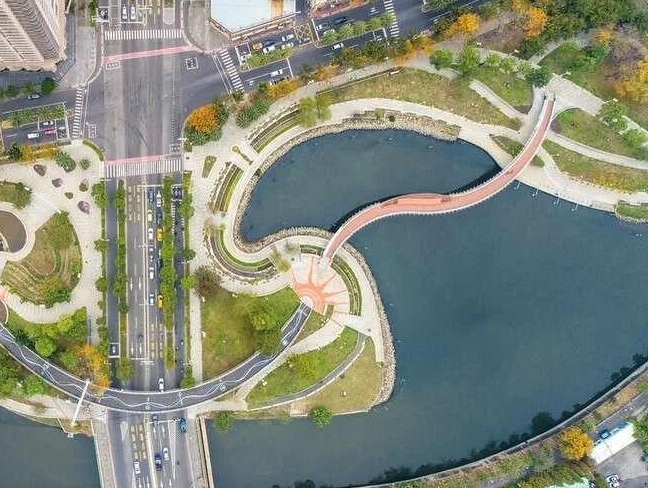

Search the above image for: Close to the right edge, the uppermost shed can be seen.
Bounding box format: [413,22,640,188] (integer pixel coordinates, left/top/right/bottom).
[587,419,635,466]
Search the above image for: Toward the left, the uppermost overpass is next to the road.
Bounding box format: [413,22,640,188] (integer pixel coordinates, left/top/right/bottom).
[0,304,311,413]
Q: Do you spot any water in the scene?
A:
Yes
